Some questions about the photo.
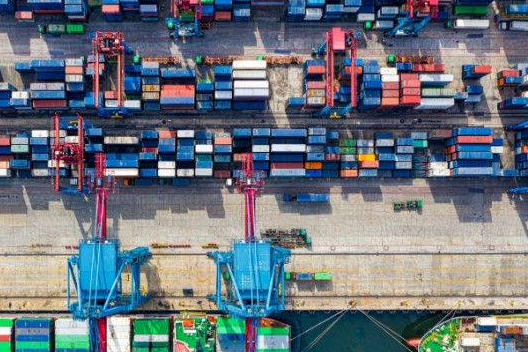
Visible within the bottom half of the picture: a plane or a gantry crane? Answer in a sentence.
What appears within the bottom half of the picture is a gantry crane.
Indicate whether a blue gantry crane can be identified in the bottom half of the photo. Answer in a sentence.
Yes, a blue gantry crane can be seen in the bottom half of the photo.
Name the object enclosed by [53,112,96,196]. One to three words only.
container crane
